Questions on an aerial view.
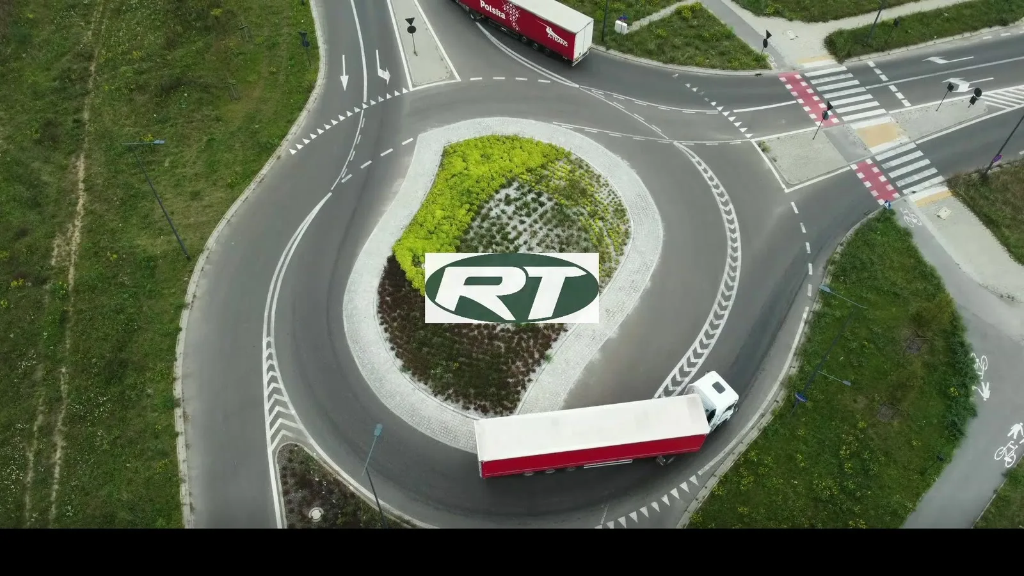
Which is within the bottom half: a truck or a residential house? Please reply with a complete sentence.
It is a truck that can be seen within the bottom half.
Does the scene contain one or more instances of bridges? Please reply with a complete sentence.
No, there is no bridge in the image.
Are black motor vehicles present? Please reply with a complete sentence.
No, there isn't any black motor vehicle down there.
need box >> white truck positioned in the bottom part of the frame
[475,367,744,483]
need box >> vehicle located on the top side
[436,0,594,67]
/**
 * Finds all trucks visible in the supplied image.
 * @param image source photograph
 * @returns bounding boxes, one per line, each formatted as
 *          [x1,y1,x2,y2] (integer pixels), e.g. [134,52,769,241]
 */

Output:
[436,0,594,67]
[475,367,744,483]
